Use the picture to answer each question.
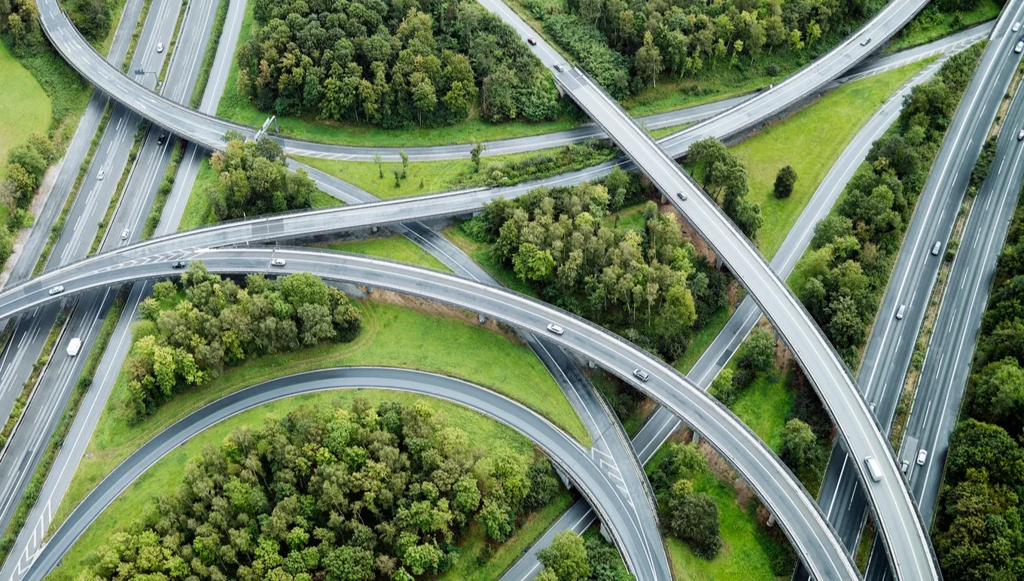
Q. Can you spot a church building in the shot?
No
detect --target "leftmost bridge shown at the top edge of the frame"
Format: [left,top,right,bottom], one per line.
[37,0,264,156]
